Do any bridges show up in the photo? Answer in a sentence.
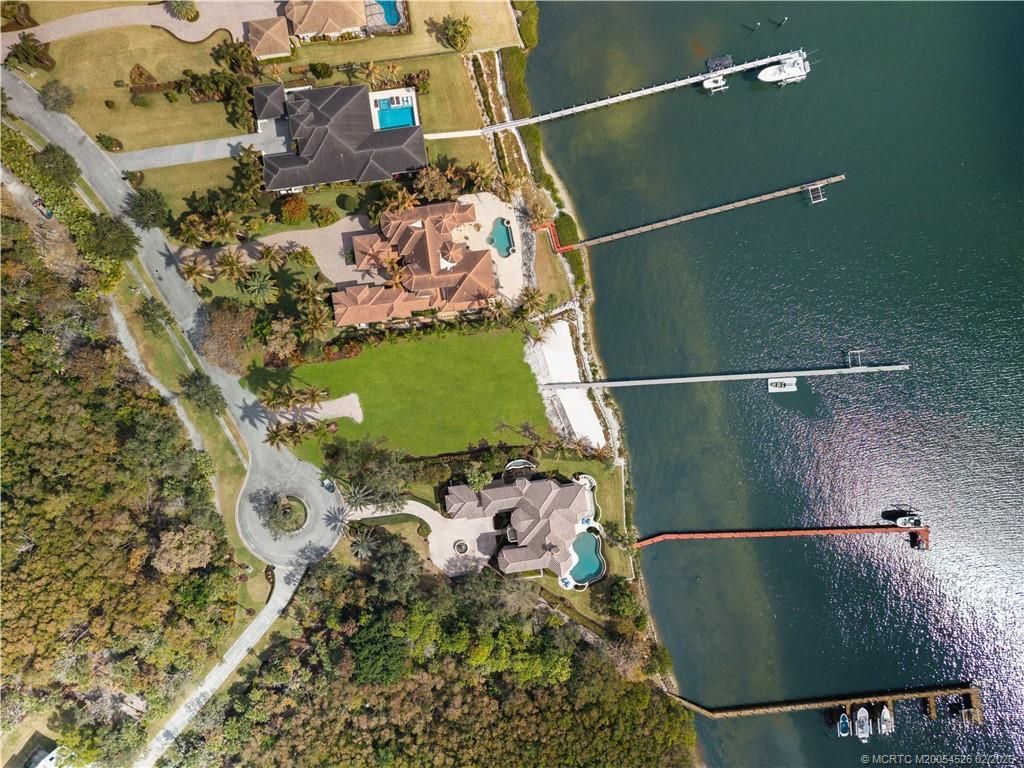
No, the picture doesn't show any bridge.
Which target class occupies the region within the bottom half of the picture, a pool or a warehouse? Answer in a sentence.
There is a pool within the bottom half of the picture.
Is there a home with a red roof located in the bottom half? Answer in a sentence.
No, there is no home with a red roof in the bottom half.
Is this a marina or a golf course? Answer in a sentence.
This looks like a marina.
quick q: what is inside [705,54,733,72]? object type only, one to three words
pier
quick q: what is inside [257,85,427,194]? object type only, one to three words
house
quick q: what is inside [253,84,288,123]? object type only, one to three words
house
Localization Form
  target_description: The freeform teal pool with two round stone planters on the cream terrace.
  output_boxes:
[484,211,517,260]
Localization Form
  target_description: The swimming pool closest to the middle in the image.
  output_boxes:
[504,459,537,473]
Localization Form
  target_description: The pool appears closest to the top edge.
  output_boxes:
[367,0,405,30]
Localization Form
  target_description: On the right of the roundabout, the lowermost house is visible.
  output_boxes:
[445,472,588,579]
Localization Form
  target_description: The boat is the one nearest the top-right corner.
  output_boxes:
[758,55,811,80]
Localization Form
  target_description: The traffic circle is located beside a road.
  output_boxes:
[260,494,308,536]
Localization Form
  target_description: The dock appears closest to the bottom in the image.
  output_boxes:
[662,681,985,723]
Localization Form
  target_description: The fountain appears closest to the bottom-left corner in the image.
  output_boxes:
[451,538,470,557]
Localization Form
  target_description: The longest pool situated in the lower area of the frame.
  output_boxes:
[556,473,608,593]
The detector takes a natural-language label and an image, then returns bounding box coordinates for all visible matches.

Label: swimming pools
[367,0,405,30]
[556,473,608,593]
[369,87,420,131]
[484,211,517,260]
[504,459,537,473]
